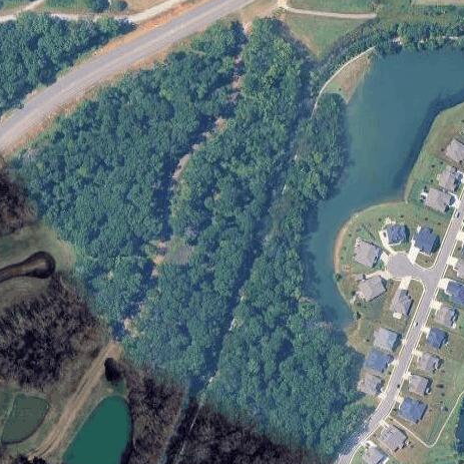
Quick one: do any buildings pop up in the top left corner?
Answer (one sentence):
No, the scene shows no building in the top left corner.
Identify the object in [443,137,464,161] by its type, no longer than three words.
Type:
house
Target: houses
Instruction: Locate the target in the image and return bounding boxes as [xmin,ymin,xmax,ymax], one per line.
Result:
[416,353,443,373]
[425,188,449,213]
[359,373,379,396]
[387,222,404,245]
[409,373,431,397]
[358,275,385,303]
[371,326,400,349]
[415,227,439,252]
[443,137,464,161]
[382,425,406,451]
[447,280,464,306]
[353,239,381,264]
[428,326,449,349]
[364,349,388,373]
[388,292,413,316]
[361,446,387,464]
[438,305,458,327]
[437,165,463,188]
[402,398,425,423]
